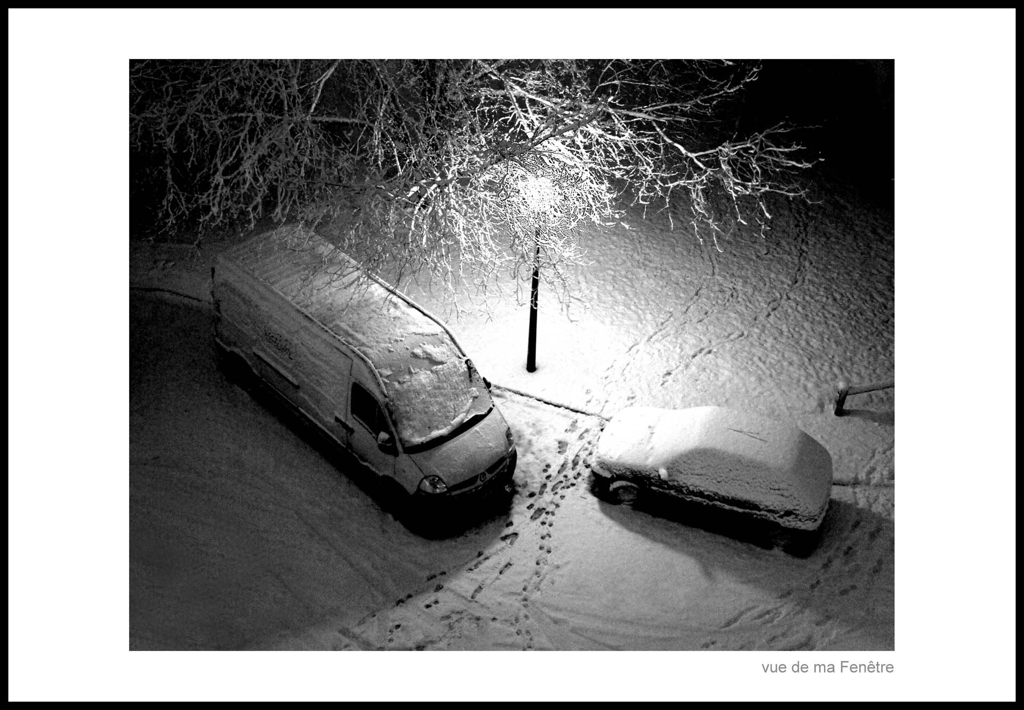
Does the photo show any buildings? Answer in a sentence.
No, no building is visible in the scene.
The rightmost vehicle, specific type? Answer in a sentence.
It looks like the rightmost vehicle is a car.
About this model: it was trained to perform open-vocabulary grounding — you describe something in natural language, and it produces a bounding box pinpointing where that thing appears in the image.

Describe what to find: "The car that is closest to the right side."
[587,399,849,552]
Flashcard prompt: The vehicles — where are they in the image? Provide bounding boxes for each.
[218,224,521,526]
[587,399,849,552]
